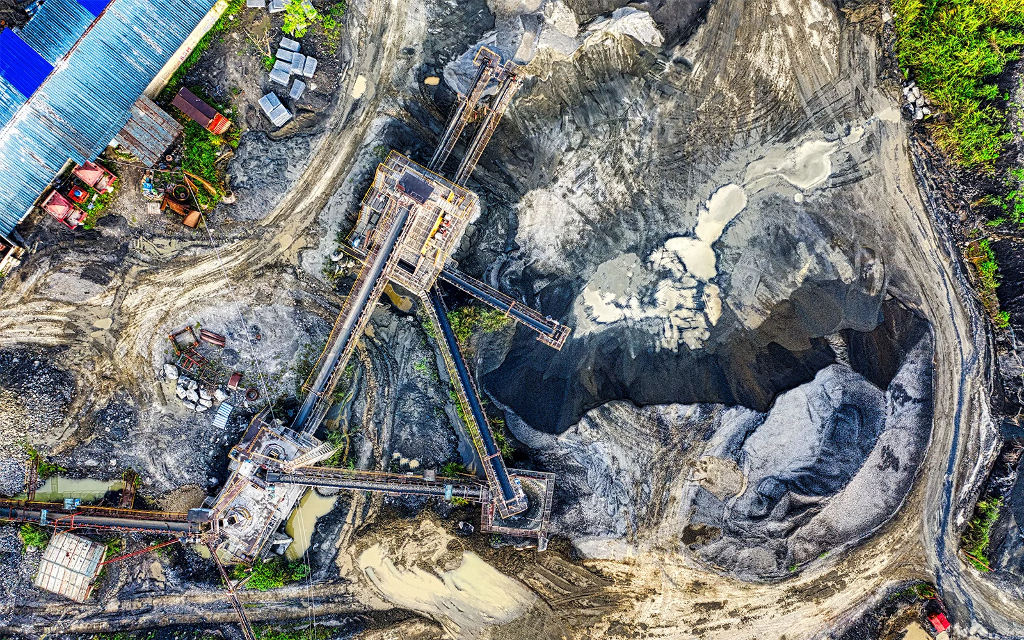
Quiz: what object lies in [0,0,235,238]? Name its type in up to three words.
warehouse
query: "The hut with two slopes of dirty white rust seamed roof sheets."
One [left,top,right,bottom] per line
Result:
[35,530,115,605]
